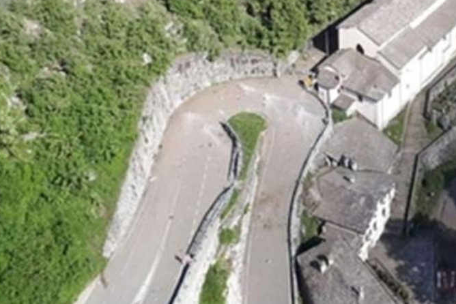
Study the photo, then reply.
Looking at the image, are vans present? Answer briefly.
No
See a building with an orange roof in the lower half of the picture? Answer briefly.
No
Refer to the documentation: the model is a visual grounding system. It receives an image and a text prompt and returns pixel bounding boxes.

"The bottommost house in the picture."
[297,225,400,304]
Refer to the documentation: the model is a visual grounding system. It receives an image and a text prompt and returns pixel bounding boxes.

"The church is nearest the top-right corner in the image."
[319,0,456,131]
